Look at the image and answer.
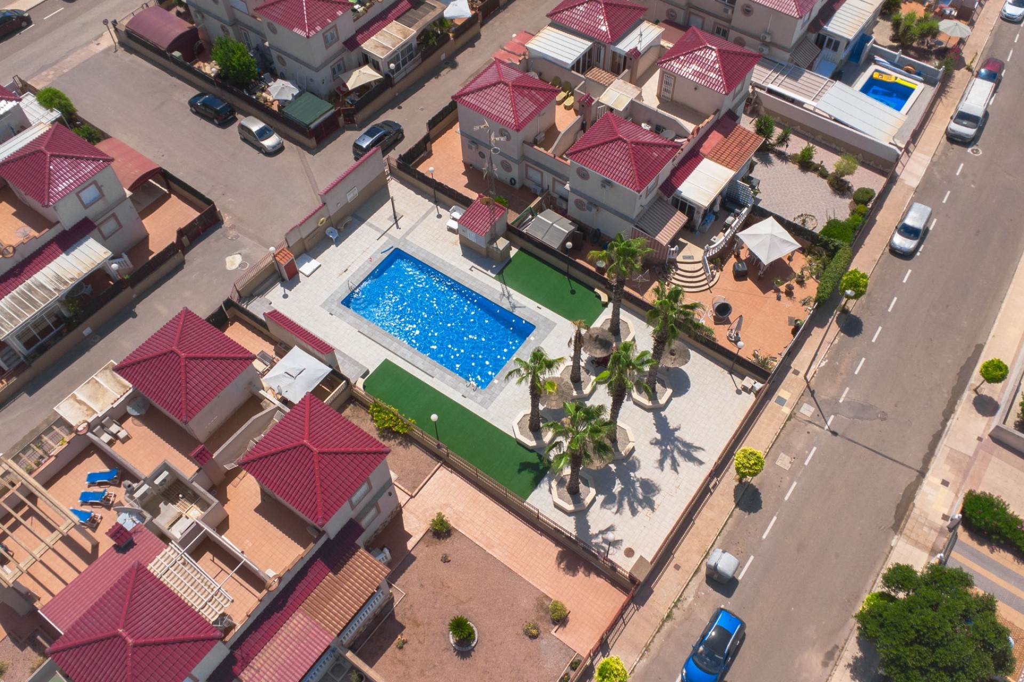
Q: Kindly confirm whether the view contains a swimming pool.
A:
Yes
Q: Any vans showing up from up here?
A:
Yes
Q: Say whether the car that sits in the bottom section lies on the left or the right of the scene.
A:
right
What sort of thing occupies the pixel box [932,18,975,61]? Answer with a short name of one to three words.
umbrella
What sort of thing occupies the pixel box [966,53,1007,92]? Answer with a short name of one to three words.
car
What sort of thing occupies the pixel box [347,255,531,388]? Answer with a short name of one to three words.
swimming pool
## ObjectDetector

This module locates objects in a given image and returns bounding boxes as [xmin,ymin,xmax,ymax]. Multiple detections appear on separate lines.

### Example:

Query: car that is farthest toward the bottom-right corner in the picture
[670,602,744,682]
